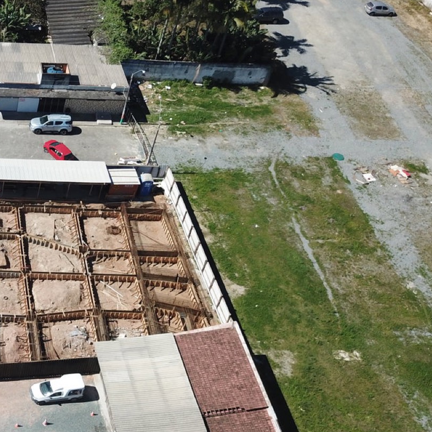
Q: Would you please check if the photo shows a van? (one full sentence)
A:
Yes, the picture does show a van.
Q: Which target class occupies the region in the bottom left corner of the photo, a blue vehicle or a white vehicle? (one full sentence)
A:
Visible in the bottom left corner of the photo is a white vehicle.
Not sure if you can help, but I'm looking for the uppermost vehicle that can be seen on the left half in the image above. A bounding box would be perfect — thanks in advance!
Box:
[30,112,74,133]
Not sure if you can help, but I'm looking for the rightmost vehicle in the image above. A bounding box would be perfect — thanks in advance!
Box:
[365,0,398,15]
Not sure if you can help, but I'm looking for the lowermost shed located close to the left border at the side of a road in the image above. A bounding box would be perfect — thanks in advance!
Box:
[0,160,112,203]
